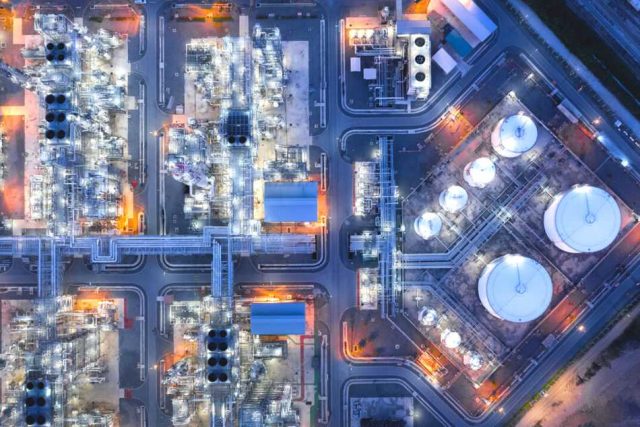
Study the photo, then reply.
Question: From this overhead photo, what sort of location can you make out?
industrial area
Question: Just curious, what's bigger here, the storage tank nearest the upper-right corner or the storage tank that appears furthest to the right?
the storage tank that appears furthest to the right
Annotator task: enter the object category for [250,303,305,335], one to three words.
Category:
shed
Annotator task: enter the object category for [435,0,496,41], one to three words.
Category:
building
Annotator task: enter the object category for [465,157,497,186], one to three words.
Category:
storage tank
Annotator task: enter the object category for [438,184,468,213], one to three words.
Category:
storage tank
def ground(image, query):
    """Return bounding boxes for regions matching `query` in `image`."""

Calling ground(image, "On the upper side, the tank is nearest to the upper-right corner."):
[493,114,538,157]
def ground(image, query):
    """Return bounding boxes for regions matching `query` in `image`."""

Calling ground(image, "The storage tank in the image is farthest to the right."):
[546,186,622,254]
